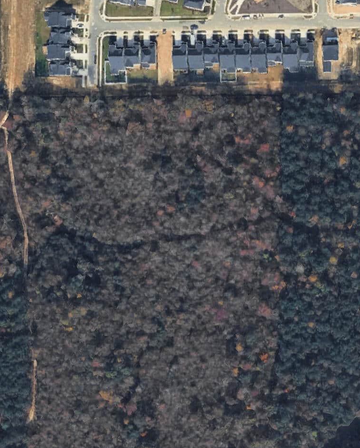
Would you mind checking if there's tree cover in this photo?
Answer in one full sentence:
Yes, the picture does contain tree cover.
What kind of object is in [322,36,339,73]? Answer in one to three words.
house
